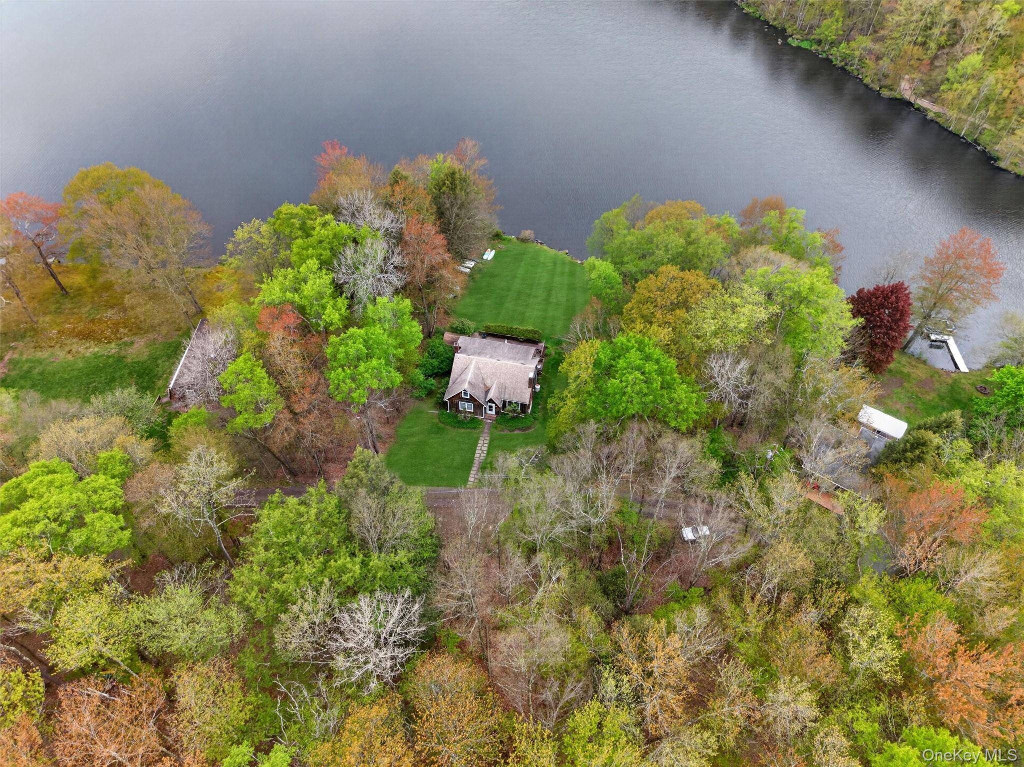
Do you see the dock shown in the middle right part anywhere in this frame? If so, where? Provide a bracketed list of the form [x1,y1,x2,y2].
[929,333,968,372]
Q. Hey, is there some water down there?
Yes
